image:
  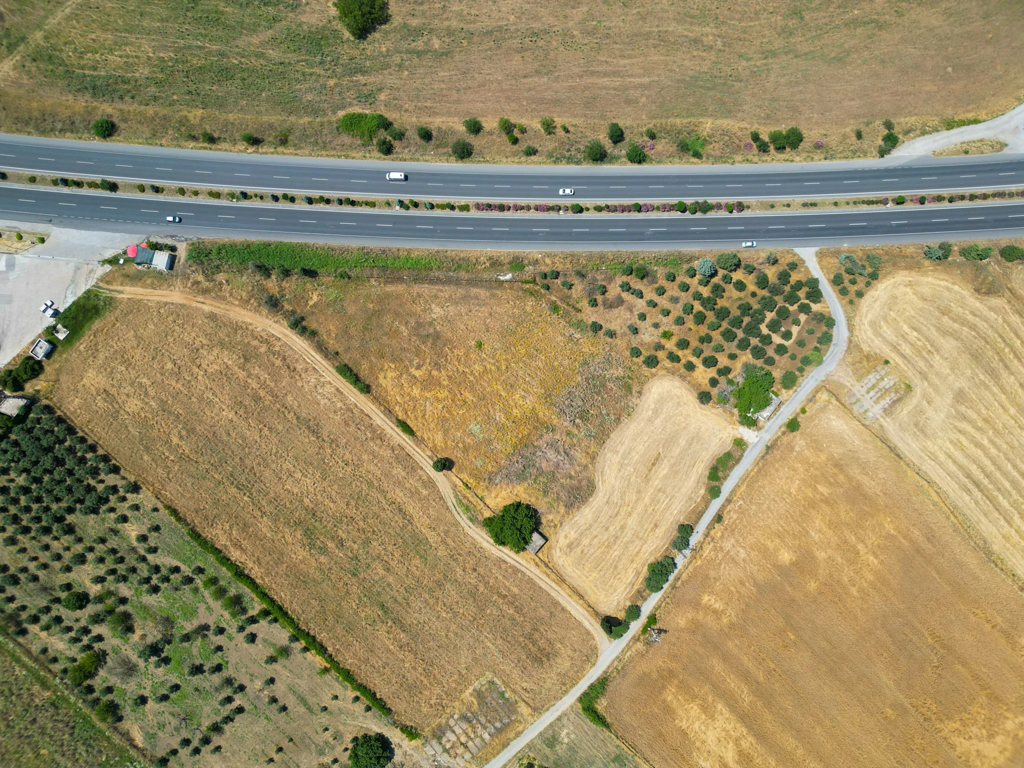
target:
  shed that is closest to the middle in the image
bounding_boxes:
[524,529,548,554]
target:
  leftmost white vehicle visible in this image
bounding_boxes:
[37,300,55,313]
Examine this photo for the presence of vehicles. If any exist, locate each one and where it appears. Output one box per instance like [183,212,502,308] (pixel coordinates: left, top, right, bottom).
[37,300,55,313]
[559,189,574,195]
[166,216,182,223]
[742,241,756,248]
[387,173,406,181]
